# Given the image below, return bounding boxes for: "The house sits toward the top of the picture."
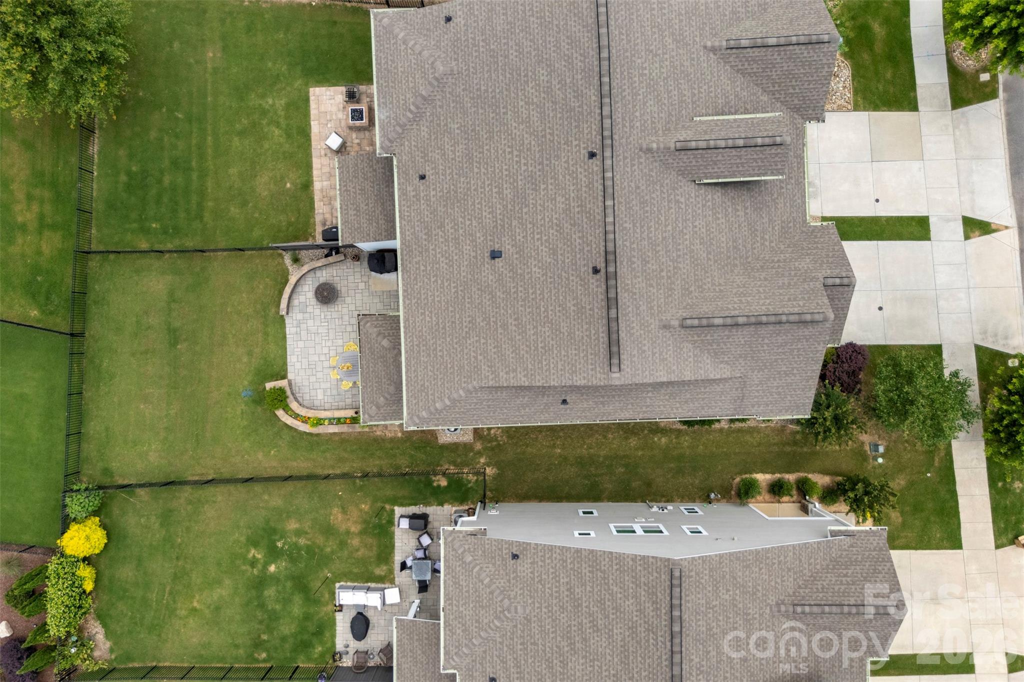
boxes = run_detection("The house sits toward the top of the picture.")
[336,0,859,429]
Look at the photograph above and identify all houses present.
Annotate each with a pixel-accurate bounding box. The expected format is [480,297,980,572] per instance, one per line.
[394,497,907,682]
[336,0,859,429]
